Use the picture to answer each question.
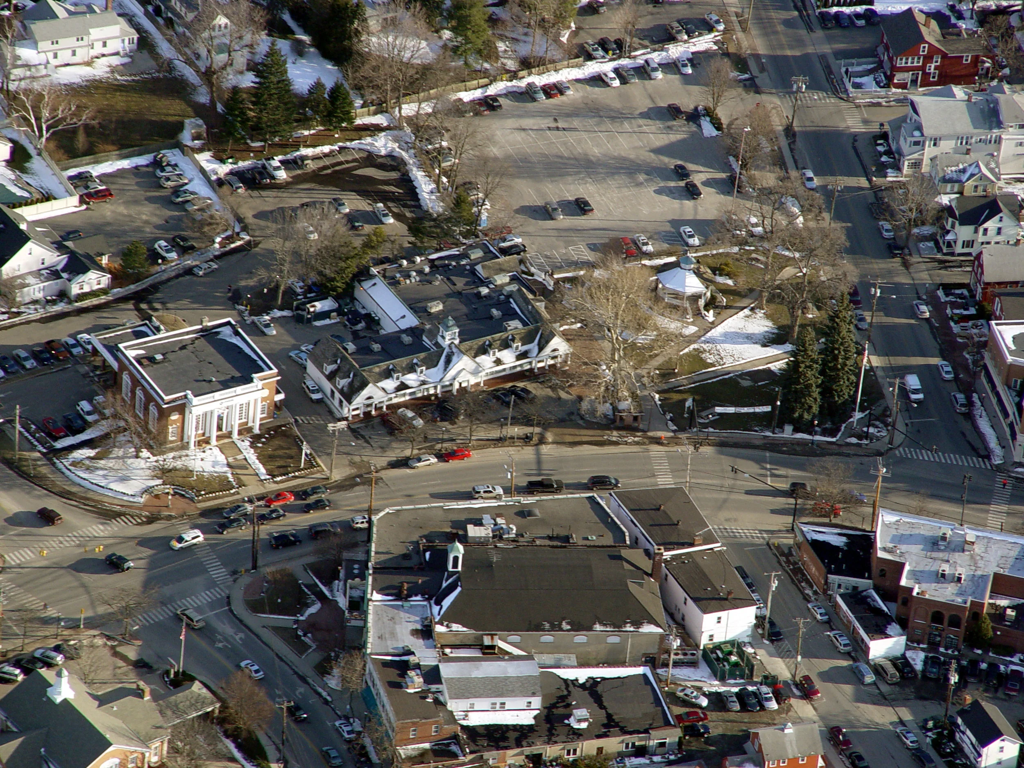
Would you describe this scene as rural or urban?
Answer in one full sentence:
The land in this view is best described as urban.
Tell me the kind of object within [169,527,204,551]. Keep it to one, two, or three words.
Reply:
car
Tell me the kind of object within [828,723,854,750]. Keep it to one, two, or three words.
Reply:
car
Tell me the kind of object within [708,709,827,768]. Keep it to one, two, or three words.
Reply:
house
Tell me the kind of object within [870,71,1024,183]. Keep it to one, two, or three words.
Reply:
house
